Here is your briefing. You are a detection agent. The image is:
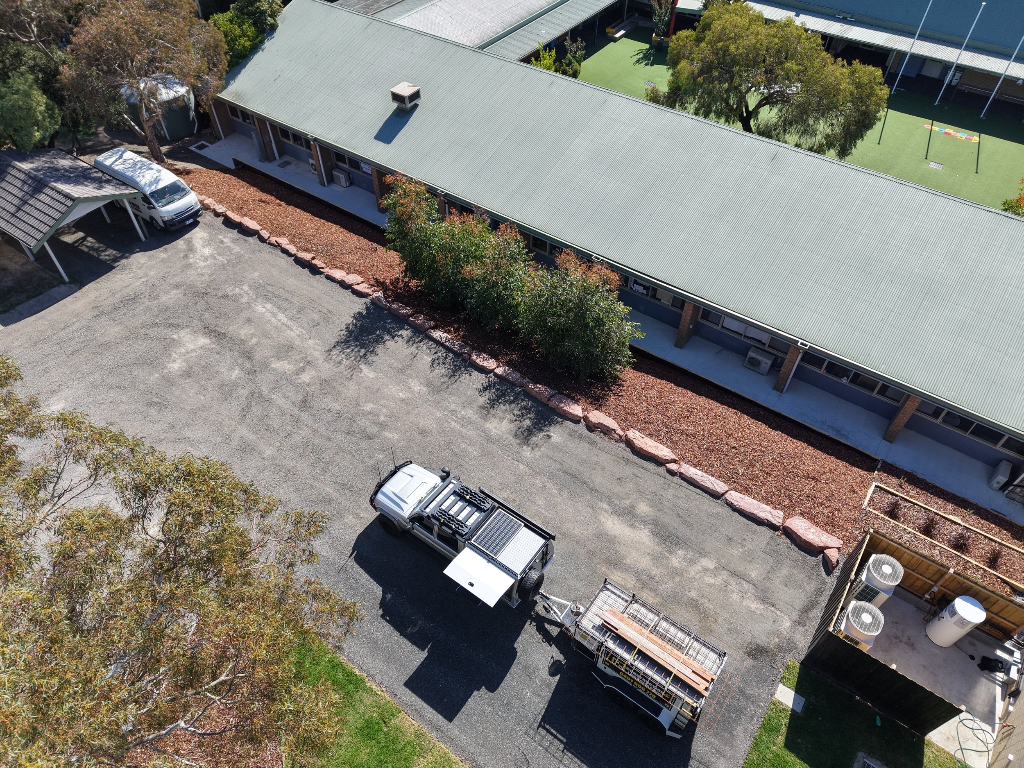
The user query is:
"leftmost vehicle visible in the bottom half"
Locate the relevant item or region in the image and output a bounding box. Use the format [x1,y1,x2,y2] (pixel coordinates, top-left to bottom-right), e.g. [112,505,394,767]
[372,445,558,607]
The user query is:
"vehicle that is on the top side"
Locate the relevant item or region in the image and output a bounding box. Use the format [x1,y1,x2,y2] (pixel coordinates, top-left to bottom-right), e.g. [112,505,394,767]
[95,153,197,229]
